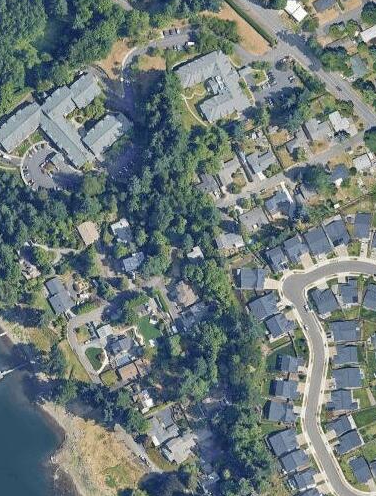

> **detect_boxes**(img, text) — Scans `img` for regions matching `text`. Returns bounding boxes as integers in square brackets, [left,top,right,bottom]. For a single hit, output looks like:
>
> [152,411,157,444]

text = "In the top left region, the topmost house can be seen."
[0,71,125,170]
